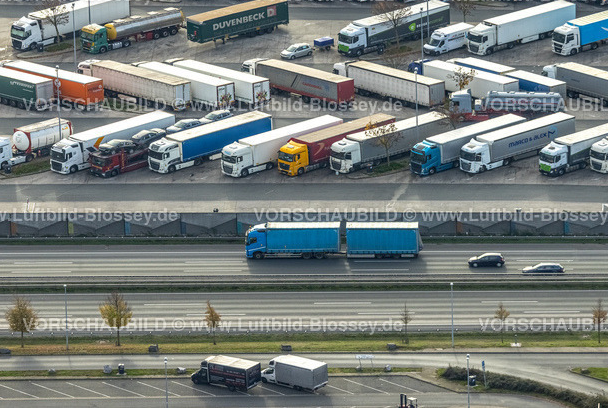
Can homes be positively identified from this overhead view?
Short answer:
No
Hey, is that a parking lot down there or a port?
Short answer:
parking lot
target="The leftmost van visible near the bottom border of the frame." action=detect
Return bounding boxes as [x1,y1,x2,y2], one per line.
[191,356,254,391]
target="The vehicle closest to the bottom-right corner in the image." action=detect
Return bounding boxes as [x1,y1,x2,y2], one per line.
[523,259,566,273]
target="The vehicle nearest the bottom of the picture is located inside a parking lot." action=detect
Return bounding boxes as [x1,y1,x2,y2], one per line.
[401,391,422,408]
